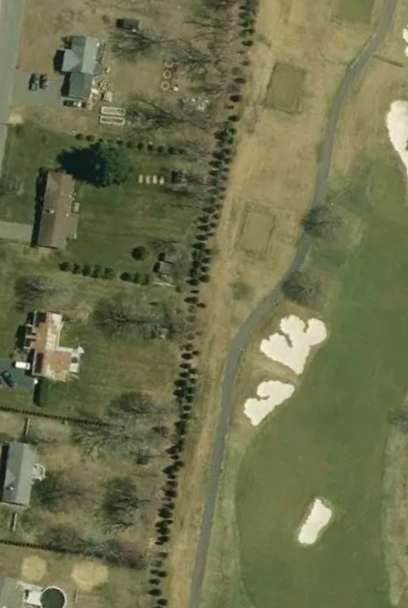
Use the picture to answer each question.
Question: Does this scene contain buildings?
Yes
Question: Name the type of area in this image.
golf course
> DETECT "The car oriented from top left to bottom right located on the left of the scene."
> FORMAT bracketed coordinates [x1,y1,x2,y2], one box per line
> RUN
[2,369,15,385]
